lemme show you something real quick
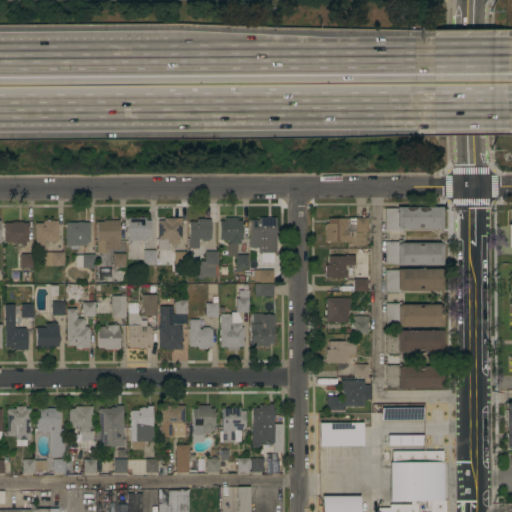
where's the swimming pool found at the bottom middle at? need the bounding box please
[194,437,214,453]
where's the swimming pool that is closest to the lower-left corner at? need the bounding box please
[38,435,50,456]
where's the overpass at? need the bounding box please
[436,30,510,135]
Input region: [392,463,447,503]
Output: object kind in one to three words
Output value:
building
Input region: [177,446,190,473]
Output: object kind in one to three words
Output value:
building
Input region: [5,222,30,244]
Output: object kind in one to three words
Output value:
house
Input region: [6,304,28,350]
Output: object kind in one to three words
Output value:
house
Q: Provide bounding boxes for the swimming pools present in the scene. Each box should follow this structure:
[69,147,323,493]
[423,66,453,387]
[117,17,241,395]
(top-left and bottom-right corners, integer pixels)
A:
[36,288,48,311]
[38,435,50,456]
[194,437,214,453]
